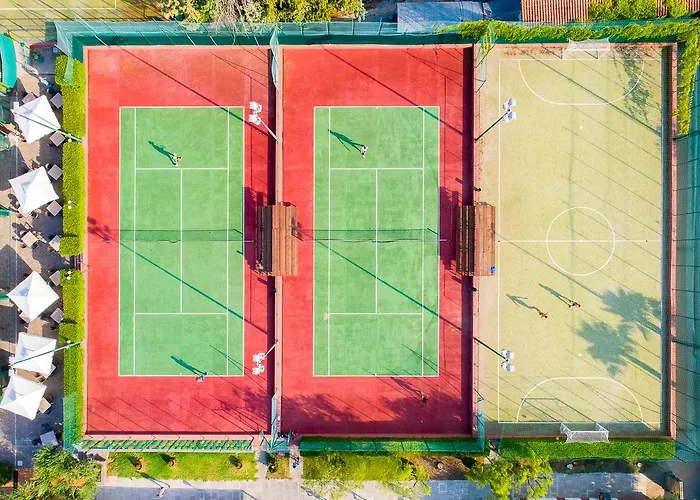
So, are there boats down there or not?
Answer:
No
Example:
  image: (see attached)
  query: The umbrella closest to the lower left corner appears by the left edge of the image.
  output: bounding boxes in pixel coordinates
[0,376,46,420]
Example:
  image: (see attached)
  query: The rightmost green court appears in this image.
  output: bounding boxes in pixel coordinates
[282,49,473,432]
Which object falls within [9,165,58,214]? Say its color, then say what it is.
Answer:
white umbrella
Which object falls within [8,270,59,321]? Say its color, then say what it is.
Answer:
white umbrella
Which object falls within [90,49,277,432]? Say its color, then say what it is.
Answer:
green tennis court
